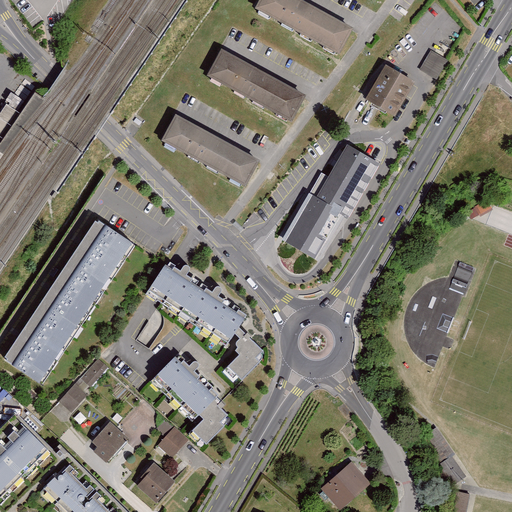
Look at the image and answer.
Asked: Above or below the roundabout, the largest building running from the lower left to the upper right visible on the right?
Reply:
above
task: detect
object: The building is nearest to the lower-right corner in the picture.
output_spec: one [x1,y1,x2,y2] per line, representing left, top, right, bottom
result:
[320,463,370,510]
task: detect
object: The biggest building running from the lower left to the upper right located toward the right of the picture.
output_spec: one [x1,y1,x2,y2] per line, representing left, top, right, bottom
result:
[282,145,380,262]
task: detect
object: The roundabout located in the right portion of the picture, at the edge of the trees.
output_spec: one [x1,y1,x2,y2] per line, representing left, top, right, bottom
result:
[280,306,352,378]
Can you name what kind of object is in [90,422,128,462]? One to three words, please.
house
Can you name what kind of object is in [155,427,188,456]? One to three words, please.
house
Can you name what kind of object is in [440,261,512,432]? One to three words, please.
soccer field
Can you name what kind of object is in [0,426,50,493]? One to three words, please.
building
